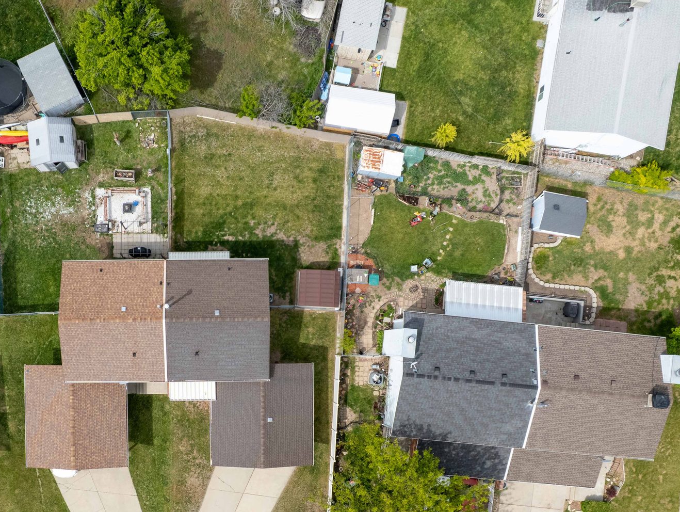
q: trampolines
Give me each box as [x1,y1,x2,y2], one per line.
[388,131,399,143]
[0,54,30,120]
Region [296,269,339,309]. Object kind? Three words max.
shed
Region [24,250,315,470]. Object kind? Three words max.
house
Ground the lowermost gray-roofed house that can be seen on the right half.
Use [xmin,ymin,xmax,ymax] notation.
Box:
[380,280,680,495]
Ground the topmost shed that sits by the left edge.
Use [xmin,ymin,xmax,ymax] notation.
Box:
[18,42,88,118]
